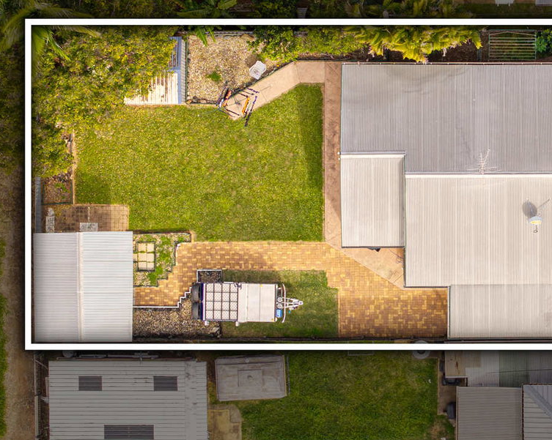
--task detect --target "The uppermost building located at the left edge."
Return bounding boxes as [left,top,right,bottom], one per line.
[27,231,134,345]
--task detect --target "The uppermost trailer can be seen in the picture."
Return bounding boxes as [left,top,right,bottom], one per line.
[191,282,303,327]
